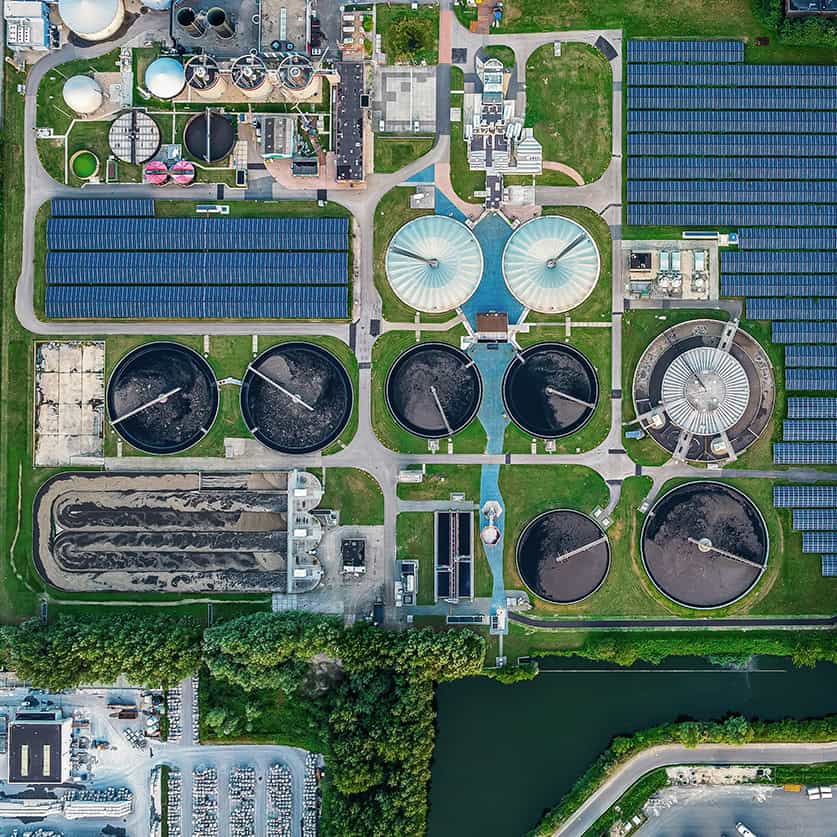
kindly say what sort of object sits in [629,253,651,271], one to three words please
house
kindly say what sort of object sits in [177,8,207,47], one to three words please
silo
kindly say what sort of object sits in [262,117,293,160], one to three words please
building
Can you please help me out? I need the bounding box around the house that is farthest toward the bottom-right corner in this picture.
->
[490,606,508,634]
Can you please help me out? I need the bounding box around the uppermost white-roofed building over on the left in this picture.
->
[5,2,55,53]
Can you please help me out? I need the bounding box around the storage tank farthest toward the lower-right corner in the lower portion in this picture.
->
[641,481,769,609]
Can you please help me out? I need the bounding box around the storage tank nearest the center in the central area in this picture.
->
[386,342,482,439]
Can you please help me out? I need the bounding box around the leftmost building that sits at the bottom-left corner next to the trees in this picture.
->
[8,702,79,783]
